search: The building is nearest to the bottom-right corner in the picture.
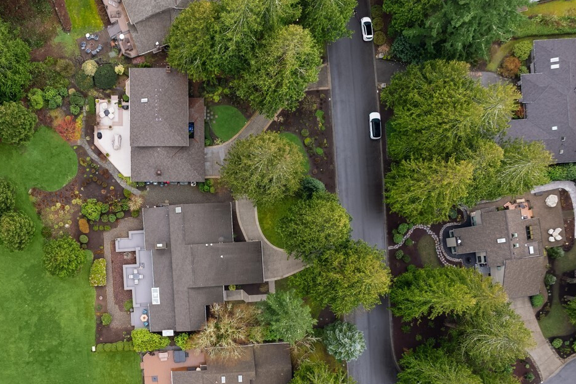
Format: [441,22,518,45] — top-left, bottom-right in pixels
[445,206,549,297]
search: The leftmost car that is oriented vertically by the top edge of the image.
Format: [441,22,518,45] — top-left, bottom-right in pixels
[359,15,373,43]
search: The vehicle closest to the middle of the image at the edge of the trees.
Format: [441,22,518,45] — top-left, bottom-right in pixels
[368,112,382,141]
